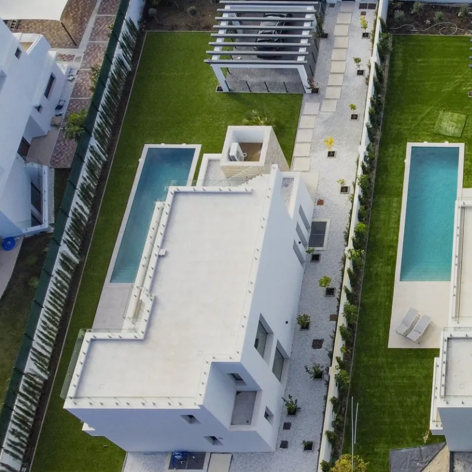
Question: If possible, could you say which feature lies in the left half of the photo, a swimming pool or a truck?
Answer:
swimming pool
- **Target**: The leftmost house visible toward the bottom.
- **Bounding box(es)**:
[60,123,315,452]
